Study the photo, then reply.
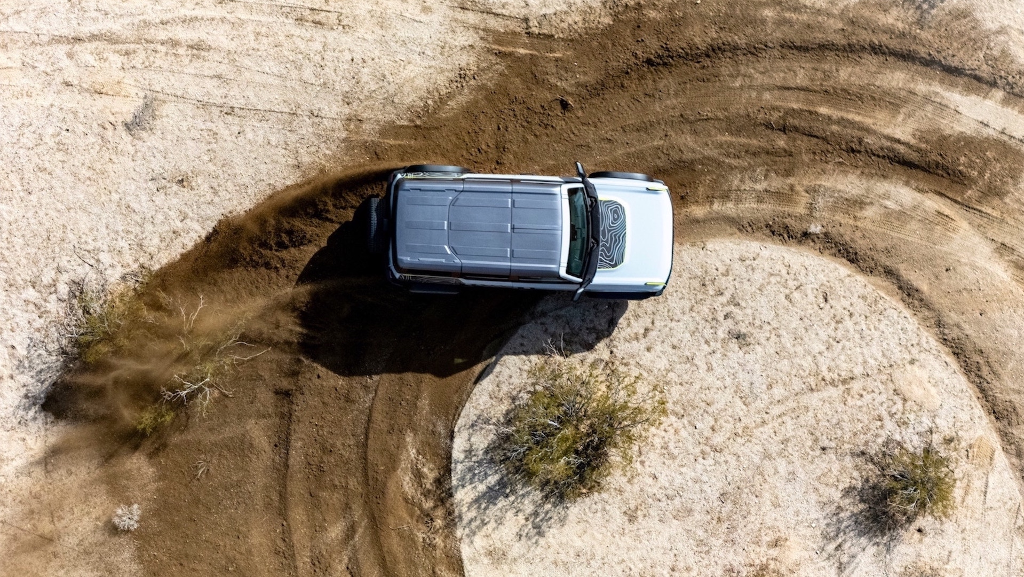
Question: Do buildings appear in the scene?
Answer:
No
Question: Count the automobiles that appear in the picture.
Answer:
1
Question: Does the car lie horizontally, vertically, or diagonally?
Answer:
horizontally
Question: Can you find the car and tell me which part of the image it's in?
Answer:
center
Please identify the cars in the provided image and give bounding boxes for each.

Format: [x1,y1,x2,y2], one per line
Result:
[369,161,674,302]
